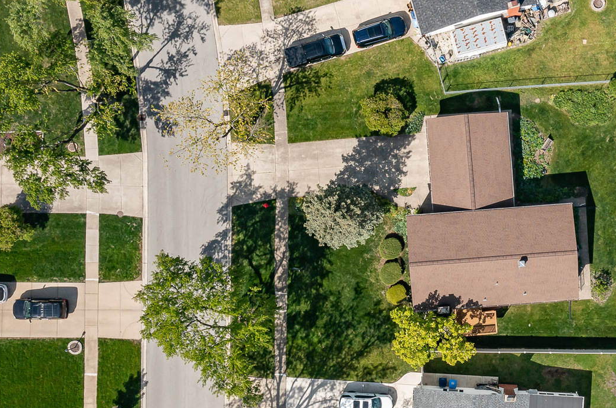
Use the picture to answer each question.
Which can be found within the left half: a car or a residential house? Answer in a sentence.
You can see a car within the left half.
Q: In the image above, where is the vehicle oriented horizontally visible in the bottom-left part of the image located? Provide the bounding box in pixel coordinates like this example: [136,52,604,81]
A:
[12,296,69,323]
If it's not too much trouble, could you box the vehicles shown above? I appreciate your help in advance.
[281,32,347,66]
[12,296,69,323]
[351,17,408,50]
[0,283,9,304]
[338,391,394,408]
